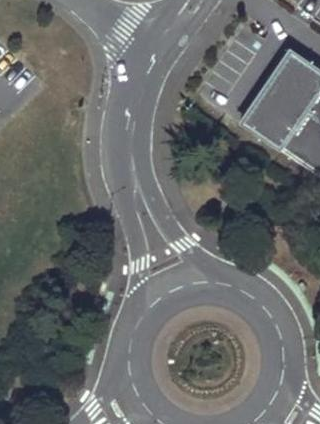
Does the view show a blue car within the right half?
No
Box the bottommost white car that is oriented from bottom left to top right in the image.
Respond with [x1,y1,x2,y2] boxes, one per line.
[14,68,34,89]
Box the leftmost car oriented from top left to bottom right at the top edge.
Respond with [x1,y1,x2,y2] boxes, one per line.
[250,19,268,38]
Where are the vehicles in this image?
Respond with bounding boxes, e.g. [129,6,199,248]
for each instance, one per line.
[0,52,16,71]
[116,59,128,82]
[272,18,288,42]
[250,19,268,38]
[4,59,25,80]
[0,42,8,58]
[210,90,230,106]
[302,0,317,13]
[14,68,34,89]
